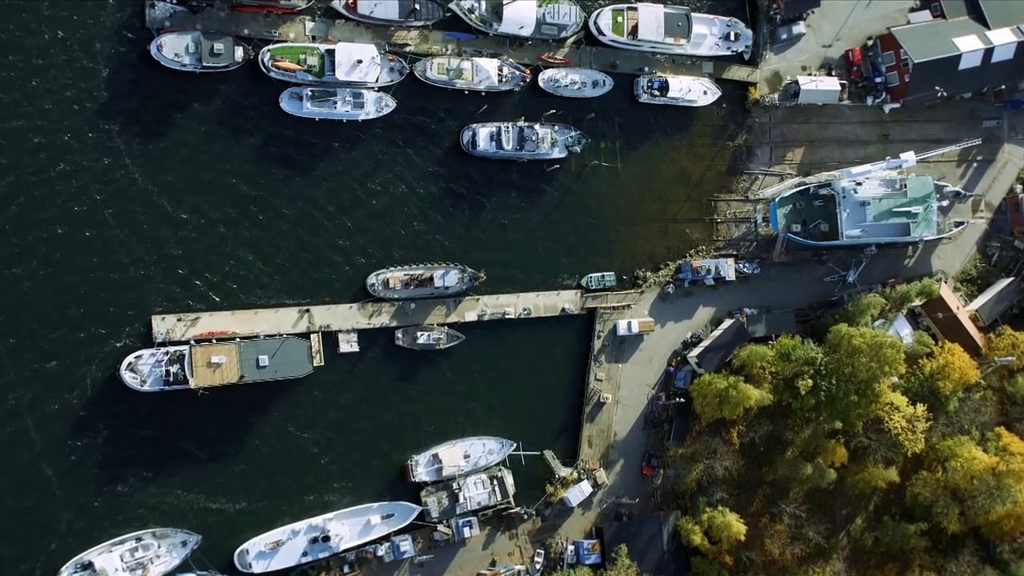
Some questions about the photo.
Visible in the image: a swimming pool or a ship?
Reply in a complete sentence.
I can see a ship in this picture.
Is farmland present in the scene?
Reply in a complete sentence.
No, farmland can't be seen anywhere here.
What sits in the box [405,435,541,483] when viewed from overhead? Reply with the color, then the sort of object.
white vessel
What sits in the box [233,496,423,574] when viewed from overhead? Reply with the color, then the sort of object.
white ship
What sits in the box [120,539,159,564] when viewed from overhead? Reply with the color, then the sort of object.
white boat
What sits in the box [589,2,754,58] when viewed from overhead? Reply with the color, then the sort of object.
white boat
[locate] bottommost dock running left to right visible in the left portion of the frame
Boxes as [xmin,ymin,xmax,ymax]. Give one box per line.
[152,290,585,342]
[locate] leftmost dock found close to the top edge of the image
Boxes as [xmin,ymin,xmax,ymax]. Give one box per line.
[146,0,724,80]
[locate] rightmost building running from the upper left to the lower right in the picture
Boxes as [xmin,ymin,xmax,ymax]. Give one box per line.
[915,281,981,354]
